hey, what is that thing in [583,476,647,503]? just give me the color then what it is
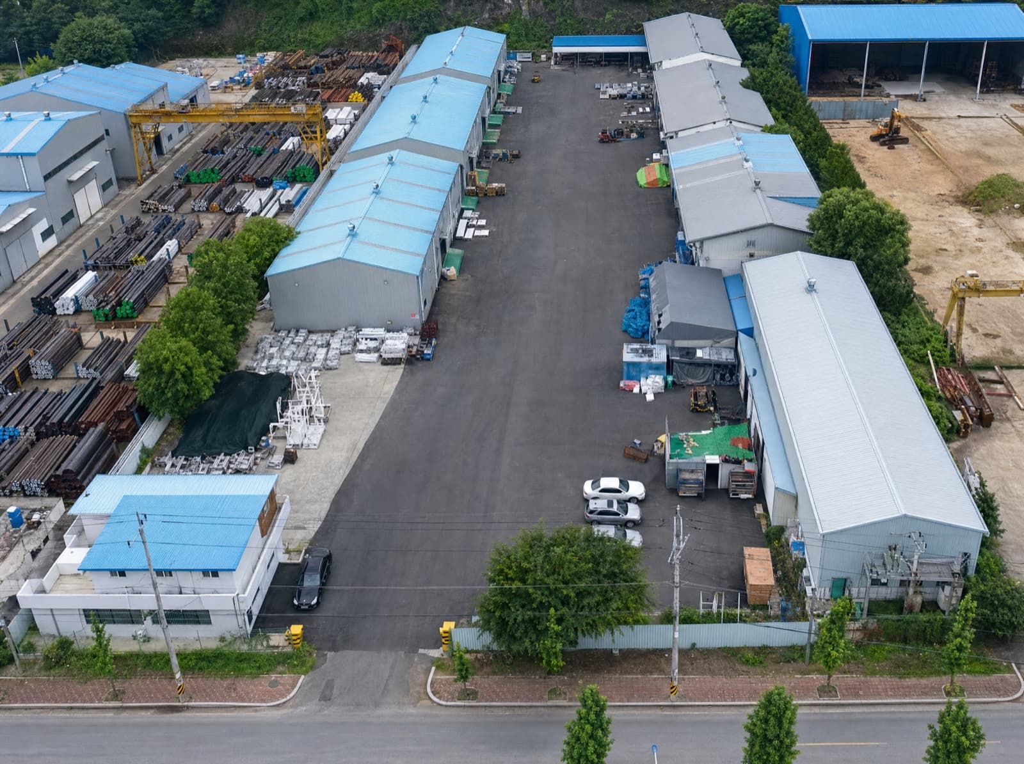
white car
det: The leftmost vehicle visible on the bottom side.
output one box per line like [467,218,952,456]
[288,555,334,613]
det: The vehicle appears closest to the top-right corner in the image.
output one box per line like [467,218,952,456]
[871,107,908,148]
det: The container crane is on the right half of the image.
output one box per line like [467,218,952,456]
[938,269,1024,385]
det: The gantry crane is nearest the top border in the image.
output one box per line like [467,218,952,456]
[120,95,319,187]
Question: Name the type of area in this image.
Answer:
industrial area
